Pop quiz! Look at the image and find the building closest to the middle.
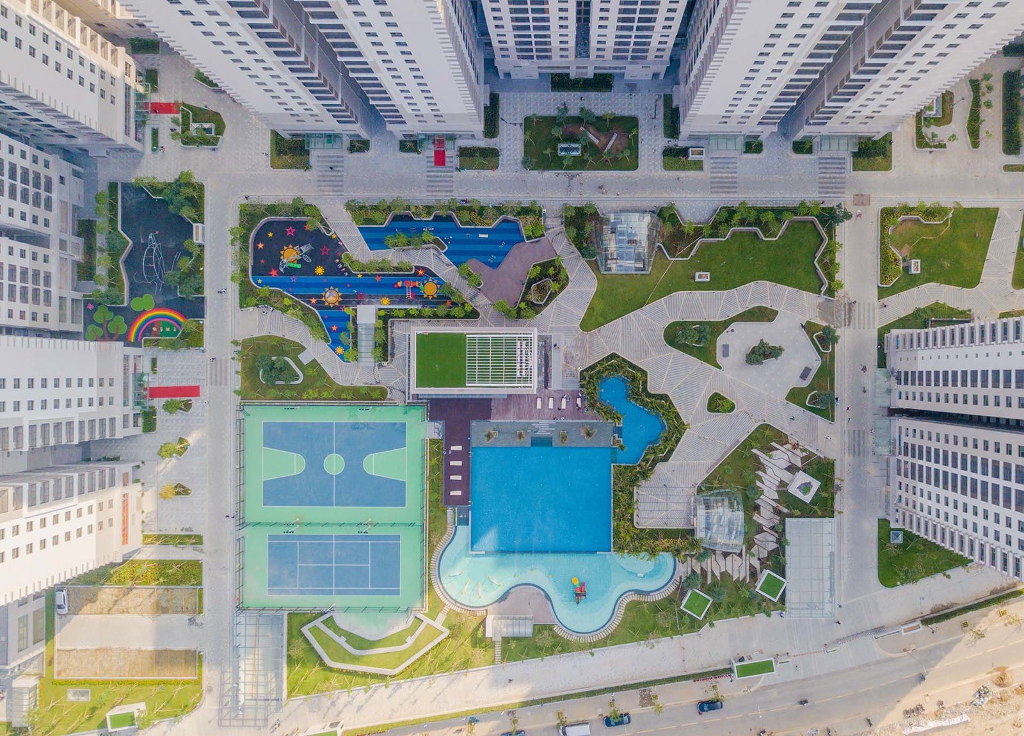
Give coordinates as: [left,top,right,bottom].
[411,327,538,398]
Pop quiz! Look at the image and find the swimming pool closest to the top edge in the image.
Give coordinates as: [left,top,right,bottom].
[600,377,666,465]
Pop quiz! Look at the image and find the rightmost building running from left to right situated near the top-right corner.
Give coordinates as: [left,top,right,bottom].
[673,0,1024,141]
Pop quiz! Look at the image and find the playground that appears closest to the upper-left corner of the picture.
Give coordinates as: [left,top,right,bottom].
[82,182,205,344]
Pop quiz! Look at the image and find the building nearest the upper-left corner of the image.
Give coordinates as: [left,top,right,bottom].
[0,0,150,156]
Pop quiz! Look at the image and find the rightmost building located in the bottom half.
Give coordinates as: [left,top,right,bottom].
[881,309,1024,596]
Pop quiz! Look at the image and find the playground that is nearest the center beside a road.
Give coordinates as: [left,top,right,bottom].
[250,221,454,363]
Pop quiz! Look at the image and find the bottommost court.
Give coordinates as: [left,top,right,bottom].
[243,525,424,639]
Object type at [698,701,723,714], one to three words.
vehicle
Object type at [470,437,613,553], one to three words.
swimming pool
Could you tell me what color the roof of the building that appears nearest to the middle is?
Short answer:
green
